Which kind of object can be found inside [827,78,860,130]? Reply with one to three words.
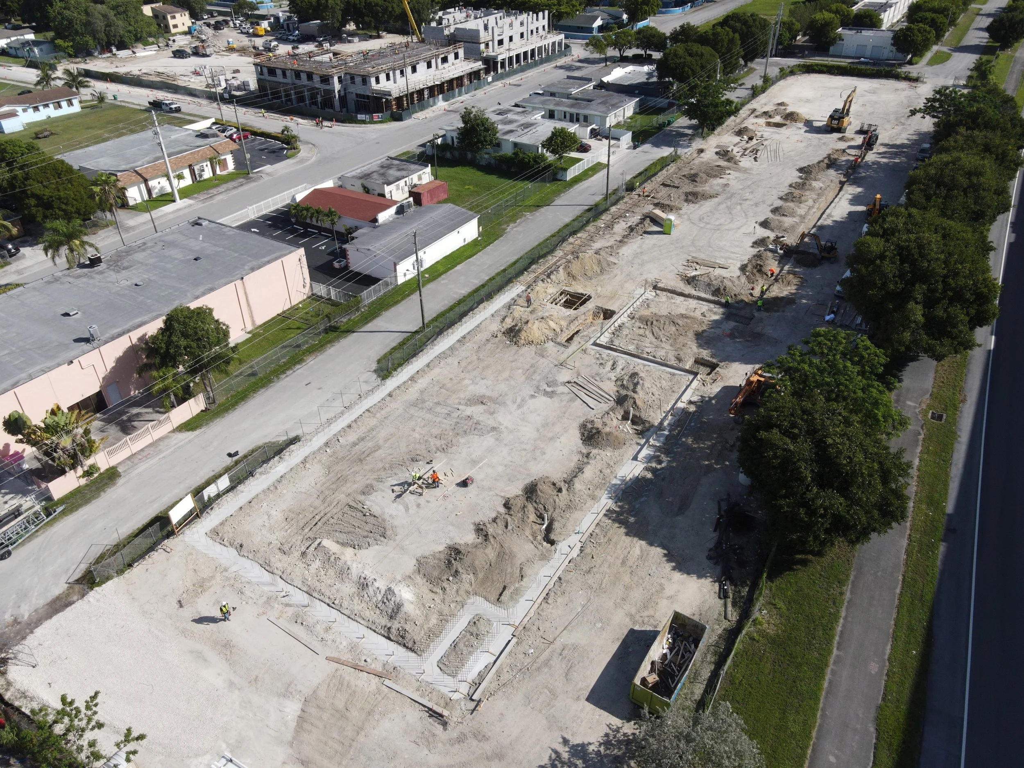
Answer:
work vehicle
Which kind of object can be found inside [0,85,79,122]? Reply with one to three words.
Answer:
house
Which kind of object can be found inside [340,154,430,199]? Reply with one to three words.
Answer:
house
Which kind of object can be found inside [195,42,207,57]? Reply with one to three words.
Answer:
vehicle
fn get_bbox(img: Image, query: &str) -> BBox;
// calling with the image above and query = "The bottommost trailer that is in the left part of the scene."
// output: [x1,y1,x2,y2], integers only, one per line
[0,492,66,561]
